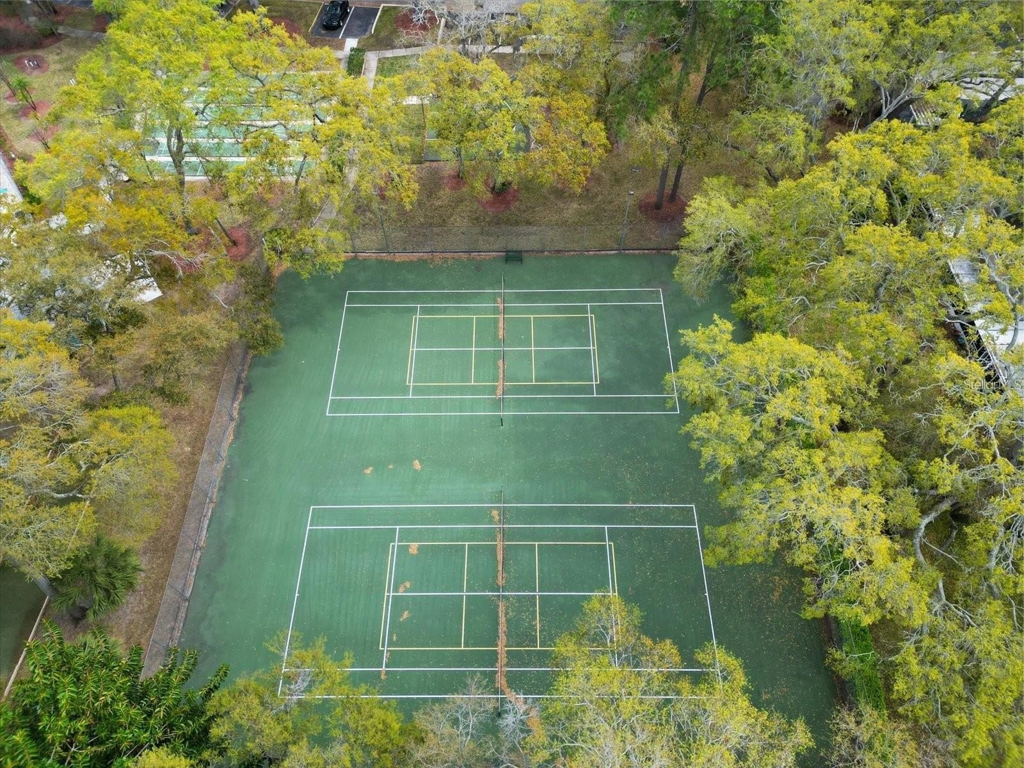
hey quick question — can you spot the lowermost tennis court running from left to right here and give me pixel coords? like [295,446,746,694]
[253,498,748,706]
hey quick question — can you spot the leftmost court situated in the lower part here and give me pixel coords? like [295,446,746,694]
[0,527,79,704]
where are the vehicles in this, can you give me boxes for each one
[317,0,342,29]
